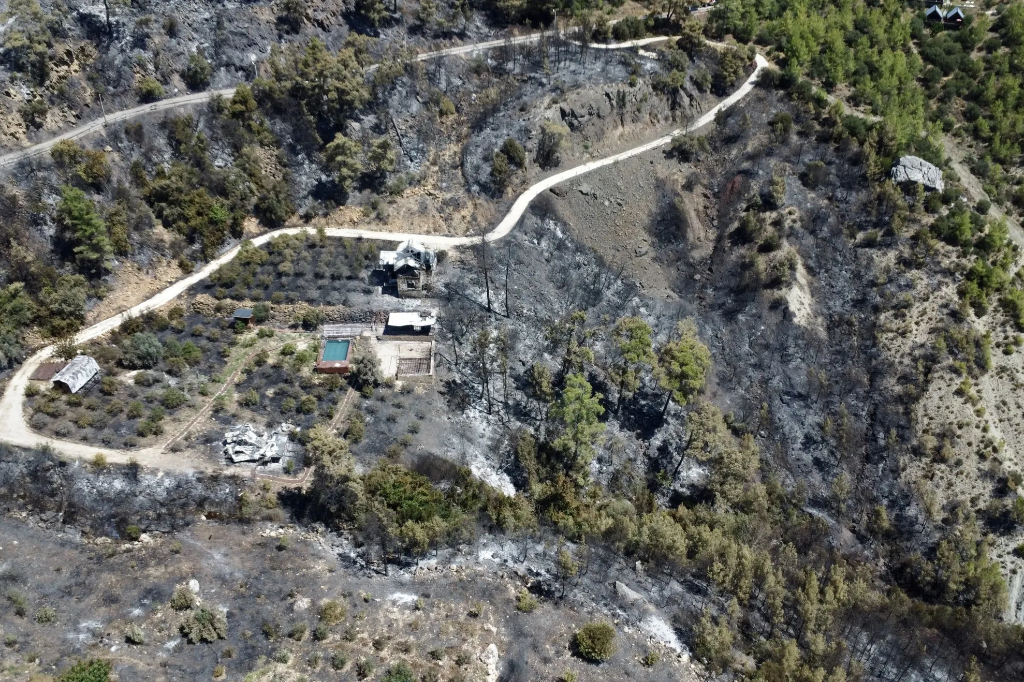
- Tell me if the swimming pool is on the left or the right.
left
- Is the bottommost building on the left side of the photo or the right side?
left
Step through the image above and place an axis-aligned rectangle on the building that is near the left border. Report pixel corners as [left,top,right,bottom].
[50,348,113,392]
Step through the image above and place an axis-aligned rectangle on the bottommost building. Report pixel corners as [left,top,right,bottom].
[225,424,305,470]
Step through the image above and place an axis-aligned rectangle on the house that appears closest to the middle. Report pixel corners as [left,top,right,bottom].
[378,235,437,298]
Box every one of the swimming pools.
[317,337,353,375]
